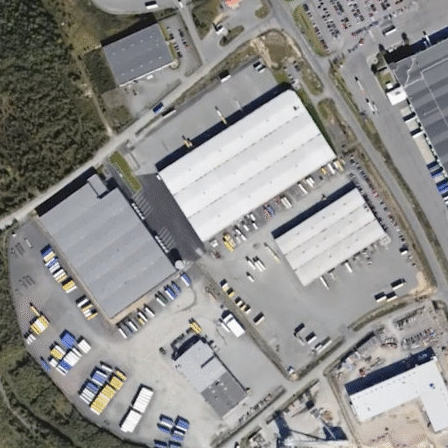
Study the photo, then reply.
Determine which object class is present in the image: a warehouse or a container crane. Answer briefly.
warehouse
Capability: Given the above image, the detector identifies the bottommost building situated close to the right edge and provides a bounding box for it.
[350,357,448,431]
